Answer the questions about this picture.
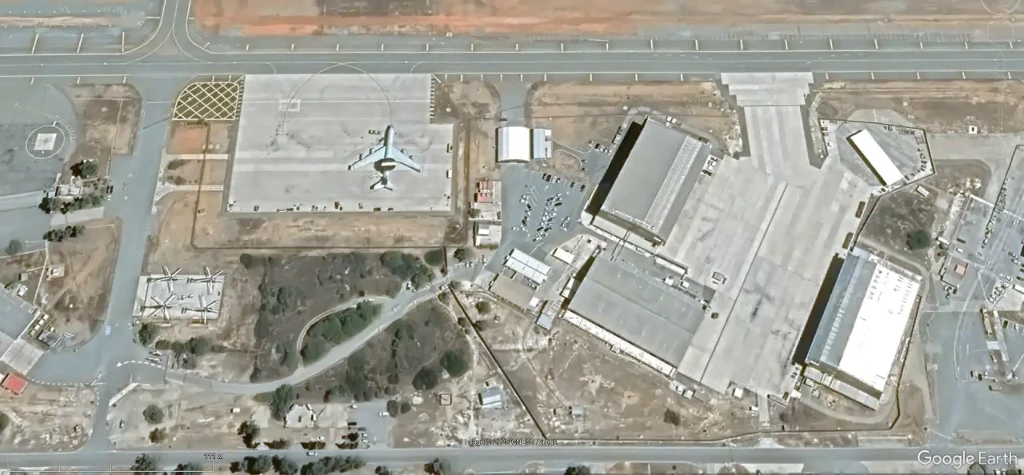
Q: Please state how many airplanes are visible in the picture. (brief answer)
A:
one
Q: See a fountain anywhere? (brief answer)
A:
No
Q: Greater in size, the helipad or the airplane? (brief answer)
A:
the airplane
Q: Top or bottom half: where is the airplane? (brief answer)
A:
top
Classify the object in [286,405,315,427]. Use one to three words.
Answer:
house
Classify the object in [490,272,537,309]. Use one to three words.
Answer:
building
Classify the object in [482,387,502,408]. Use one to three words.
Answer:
shed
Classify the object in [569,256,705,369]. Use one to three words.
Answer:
hangar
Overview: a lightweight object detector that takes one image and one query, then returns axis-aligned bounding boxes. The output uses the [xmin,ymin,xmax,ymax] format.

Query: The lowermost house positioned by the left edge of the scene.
[3,373,27,395]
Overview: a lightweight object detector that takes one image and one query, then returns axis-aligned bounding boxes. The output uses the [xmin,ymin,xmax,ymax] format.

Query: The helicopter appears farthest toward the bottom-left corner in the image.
[140,293,181,321]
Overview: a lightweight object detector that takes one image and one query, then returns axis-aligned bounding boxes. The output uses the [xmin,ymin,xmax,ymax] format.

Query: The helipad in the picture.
[26,122,65,159]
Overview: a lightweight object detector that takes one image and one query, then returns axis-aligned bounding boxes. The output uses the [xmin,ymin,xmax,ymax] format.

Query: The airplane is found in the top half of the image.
[349,126,422,190]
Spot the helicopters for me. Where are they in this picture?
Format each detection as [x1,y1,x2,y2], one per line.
[146,264,187,293]
[181,294,221,325]
[186,263,227,294]
[140,293,181,321]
